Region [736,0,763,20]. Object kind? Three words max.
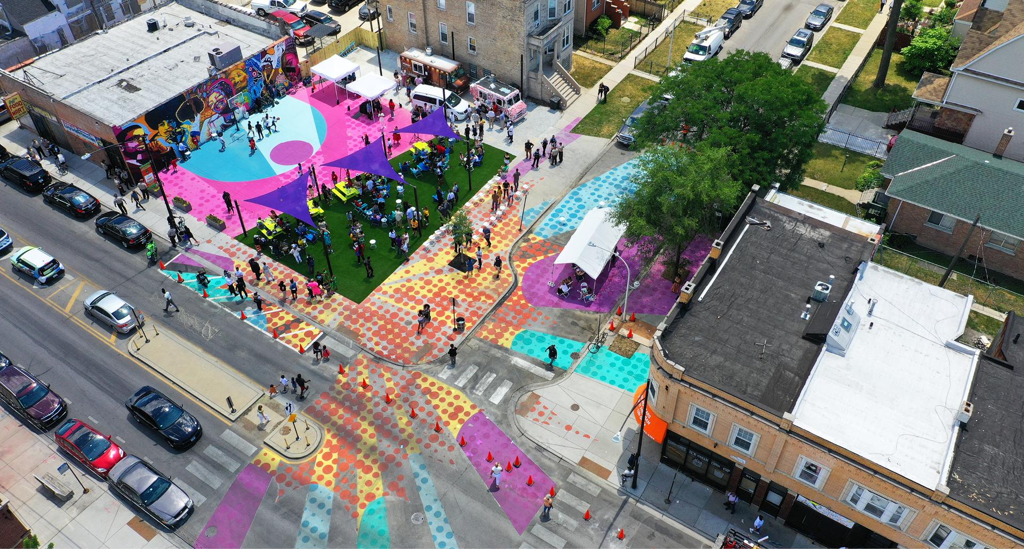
car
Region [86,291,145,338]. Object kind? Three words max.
car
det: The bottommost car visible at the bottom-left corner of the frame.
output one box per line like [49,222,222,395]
[107,456,197,531]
